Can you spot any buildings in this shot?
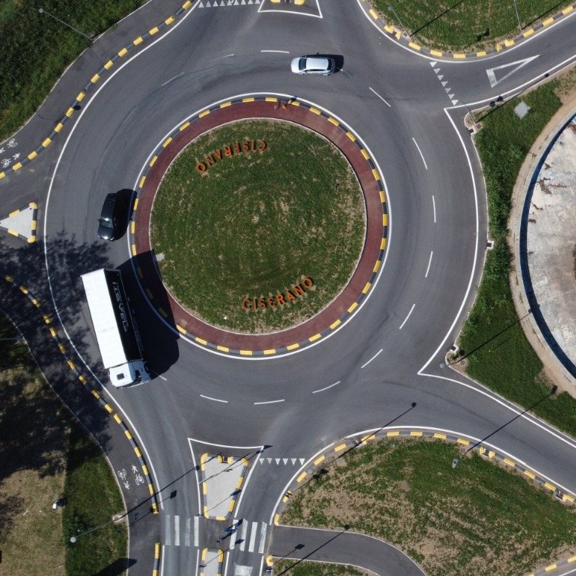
No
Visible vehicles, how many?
3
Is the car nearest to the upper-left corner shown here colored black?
Yes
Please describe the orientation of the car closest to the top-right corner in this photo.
from side to side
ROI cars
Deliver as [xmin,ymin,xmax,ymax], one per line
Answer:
[93,193,124,242]
[291,56,334,78]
